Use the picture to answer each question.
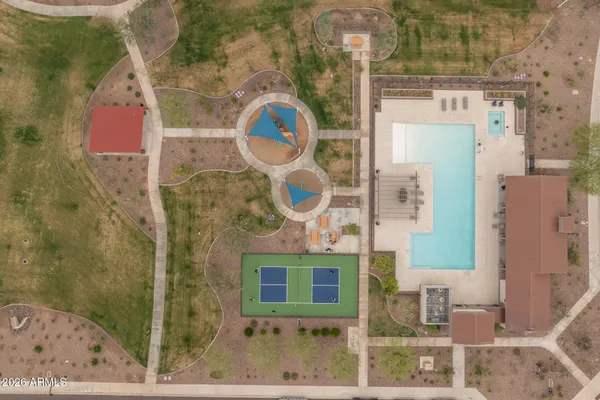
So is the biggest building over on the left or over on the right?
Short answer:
right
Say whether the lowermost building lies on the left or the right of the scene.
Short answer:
right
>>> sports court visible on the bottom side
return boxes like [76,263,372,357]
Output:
[241,253,359,317]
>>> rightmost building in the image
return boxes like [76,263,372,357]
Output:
[500,176,574,331]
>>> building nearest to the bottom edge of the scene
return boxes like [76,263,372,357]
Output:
[452,305,504,346]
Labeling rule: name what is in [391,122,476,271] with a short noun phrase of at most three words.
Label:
swimming pool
